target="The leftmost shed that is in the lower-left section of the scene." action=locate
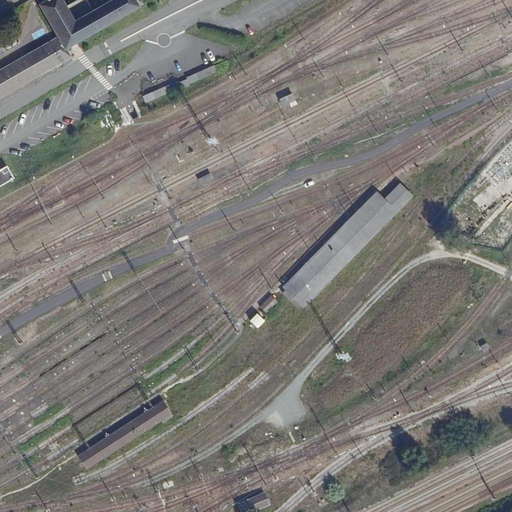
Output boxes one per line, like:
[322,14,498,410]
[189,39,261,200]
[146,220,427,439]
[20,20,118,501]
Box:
[79,400,174,470]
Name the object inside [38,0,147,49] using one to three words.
building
